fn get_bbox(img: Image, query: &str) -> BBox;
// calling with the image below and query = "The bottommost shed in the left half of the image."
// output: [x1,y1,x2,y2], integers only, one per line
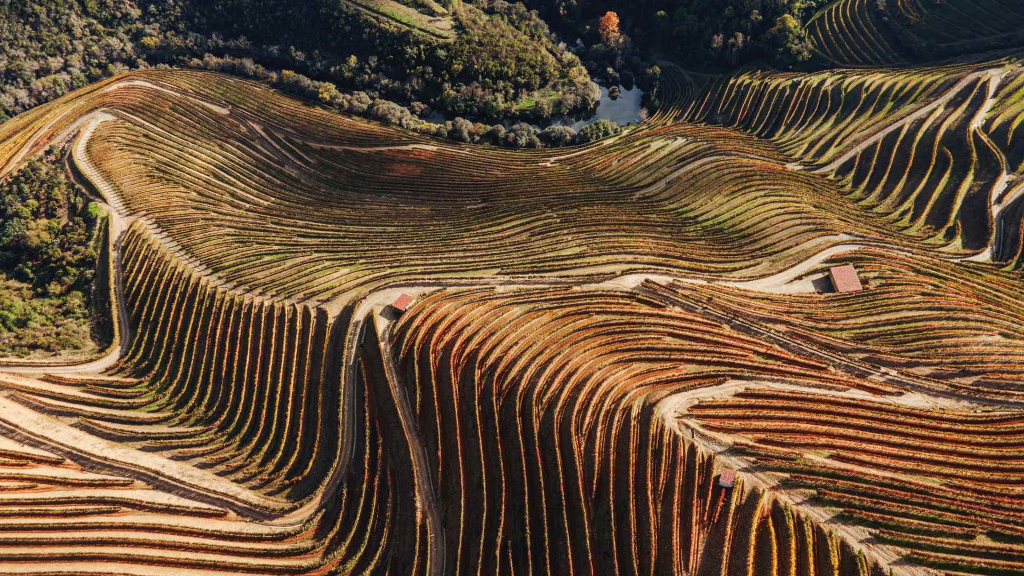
[393,292,414,313]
